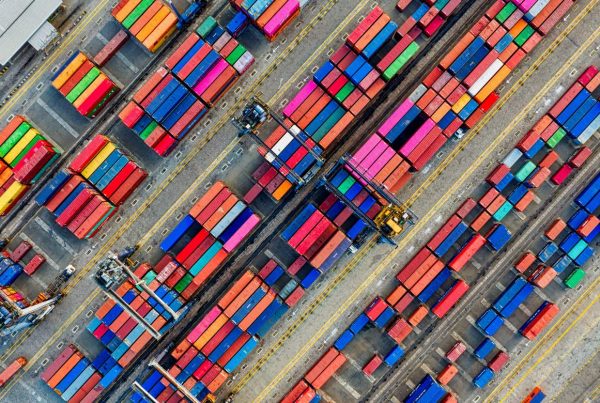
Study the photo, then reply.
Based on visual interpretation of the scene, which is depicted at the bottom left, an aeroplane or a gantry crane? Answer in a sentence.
Looking at the bottom left, you will find a gantry crane.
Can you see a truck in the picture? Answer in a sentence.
Yes, a truck can be made out from above.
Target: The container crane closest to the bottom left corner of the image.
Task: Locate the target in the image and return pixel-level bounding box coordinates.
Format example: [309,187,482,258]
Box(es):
[0,280,64,340]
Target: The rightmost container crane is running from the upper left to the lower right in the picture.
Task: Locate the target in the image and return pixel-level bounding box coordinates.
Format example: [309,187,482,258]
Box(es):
[317,152,418,247]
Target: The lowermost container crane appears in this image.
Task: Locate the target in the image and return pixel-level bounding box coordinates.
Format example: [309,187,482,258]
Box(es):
[131,338,204,403]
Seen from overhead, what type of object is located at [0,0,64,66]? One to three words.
building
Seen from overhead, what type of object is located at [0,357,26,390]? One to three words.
shipping container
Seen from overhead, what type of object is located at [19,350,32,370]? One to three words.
vehicle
